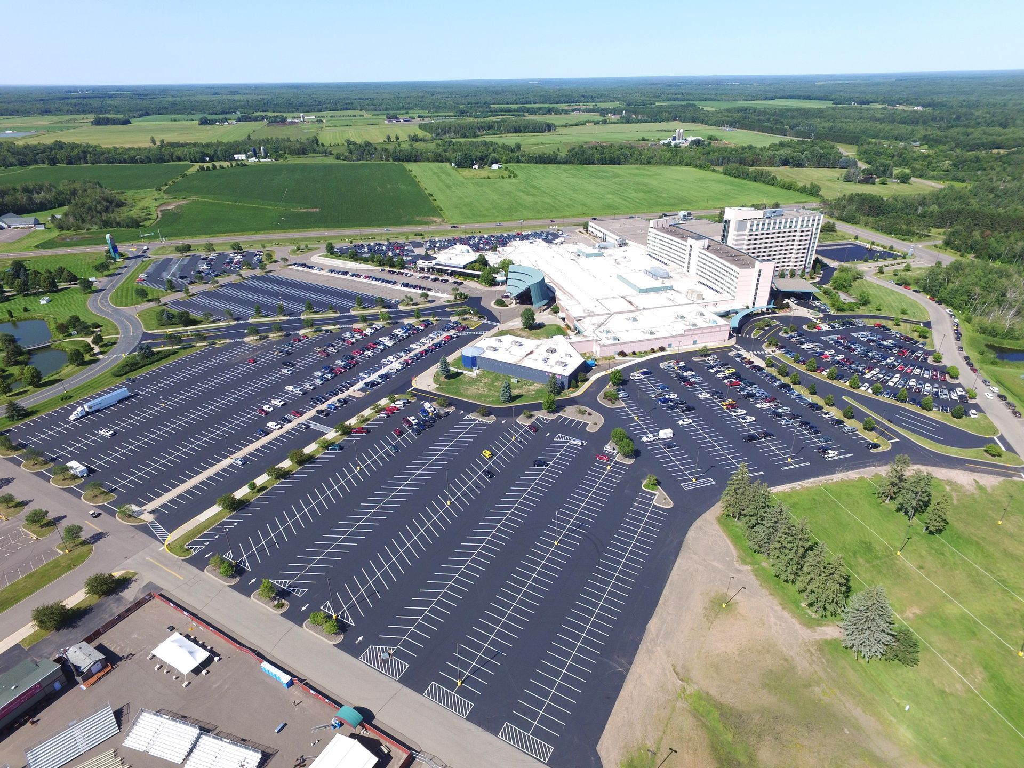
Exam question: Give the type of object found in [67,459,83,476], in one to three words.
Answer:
vehicle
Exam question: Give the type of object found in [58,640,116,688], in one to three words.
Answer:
building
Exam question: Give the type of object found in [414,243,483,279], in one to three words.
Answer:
building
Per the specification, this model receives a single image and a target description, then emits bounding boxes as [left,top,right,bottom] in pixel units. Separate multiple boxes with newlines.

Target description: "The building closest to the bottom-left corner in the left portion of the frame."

[0,652,67,732]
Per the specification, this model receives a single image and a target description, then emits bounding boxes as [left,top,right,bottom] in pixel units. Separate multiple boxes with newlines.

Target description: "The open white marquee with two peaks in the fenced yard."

[150,632,215,682]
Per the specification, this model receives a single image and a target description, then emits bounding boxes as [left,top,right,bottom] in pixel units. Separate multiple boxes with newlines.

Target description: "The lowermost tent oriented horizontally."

[308,733,381,768]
